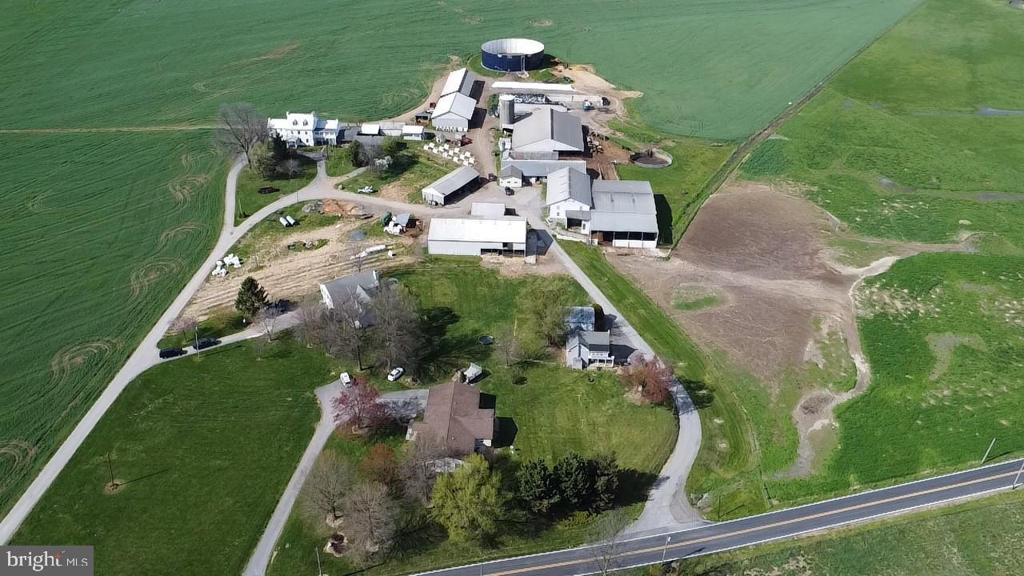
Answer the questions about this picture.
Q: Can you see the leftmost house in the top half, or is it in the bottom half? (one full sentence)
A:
You can find the leftmost house in the top half.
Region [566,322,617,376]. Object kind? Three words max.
house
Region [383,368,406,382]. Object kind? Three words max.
car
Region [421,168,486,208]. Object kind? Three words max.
shed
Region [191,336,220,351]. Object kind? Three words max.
car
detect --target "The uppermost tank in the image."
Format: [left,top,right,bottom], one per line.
[479,32,546,68]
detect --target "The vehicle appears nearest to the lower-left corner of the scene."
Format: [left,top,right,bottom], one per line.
[157,346,186,361]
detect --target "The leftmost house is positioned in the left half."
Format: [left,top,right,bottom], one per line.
[265,109,341,150]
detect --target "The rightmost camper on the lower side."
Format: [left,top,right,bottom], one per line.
[463,362,487,382]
